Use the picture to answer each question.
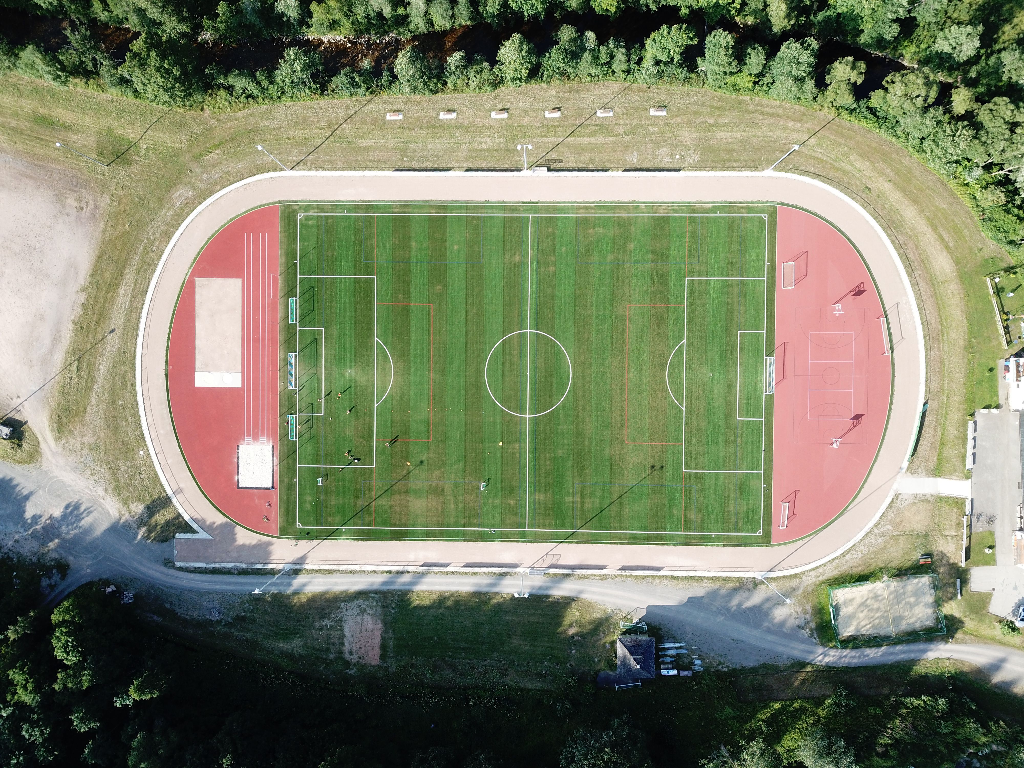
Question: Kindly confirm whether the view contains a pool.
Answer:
No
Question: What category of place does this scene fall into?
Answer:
sports ground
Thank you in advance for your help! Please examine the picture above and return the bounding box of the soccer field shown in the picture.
[165,200,895,547]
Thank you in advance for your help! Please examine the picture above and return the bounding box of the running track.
[142,176,919,570]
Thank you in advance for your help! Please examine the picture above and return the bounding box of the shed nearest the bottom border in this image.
[617,631,655,679]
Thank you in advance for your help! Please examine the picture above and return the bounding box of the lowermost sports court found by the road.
[832,576,936,639]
